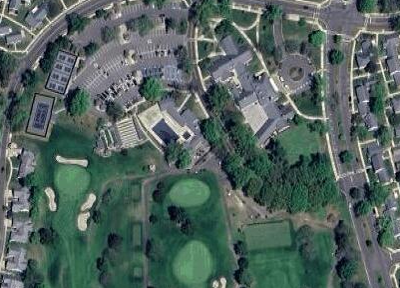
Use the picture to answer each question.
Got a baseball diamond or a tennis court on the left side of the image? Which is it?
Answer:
tennis court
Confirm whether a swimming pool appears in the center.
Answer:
Yes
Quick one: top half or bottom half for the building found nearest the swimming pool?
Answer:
top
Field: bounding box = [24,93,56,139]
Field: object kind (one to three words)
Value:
tennis court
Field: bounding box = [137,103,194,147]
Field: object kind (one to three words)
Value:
swimming pool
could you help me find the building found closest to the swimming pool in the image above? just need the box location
[211,36,294,143]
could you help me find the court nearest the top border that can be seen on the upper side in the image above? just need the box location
[44,50,78,94]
